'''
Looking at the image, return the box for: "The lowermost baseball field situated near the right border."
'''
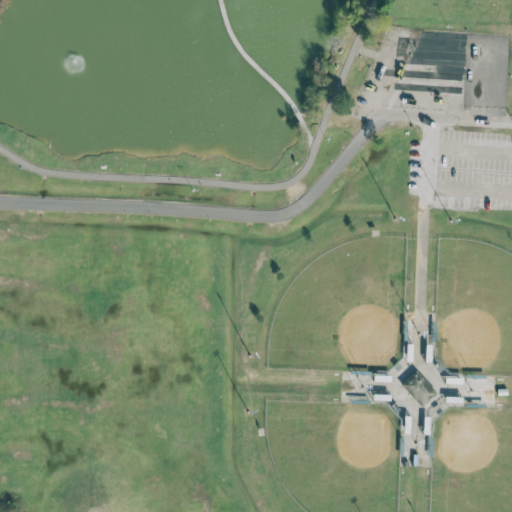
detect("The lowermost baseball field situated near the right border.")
[430,404,512,512]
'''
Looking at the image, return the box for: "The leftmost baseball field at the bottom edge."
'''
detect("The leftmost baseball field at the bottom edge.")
[266,400,401,512]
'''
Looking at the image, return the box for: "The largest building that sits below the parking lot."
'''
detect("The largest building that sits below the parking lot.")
[404,370,437,405]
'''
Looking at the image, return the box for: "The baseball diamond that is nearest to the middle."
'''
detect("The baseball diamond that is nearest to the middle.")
[268,236,406,372]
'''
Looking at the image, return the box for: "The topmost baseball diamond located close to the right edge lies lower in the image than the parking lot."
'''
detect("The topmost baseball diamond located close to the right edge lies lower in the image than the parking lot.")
[437,238,512,376]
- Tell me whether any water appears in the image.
Yes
